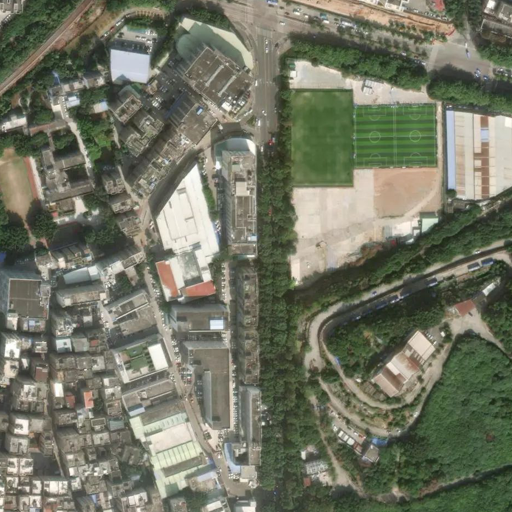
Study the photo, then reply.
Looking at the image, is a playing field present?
Yes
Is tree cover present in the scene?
Yes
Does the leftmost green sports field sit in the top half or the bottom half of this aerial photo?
top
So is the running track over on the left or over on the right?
left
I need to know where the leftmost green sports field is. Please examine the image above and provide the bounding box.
[292,89,354,188]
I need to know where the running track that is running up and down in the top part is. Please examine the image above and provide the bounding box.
[0,148,41,234]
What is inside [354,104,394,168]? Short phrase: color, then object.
green soccer field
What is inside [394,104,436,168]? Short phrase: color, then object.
green soccer field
